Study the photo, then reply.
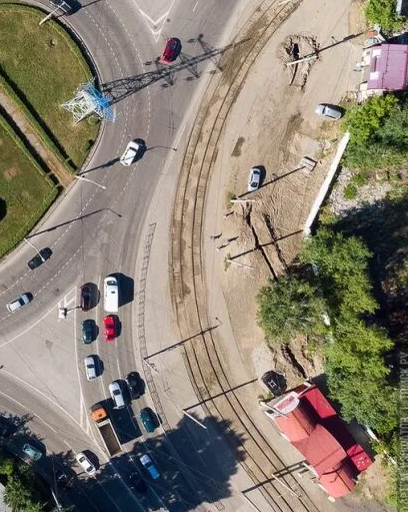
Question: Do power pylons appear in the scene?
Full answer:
Yes, the image includes a power pylon.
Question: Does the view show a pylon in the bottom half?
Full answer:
No, I see no pylon in the bottom half.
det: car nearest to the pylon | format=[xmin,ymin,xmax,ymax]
[121,141,139,164]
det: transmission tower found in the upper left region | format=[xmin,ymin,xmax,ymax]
[62,82,115,127]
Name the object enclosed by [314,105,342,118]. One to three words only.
vehicle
